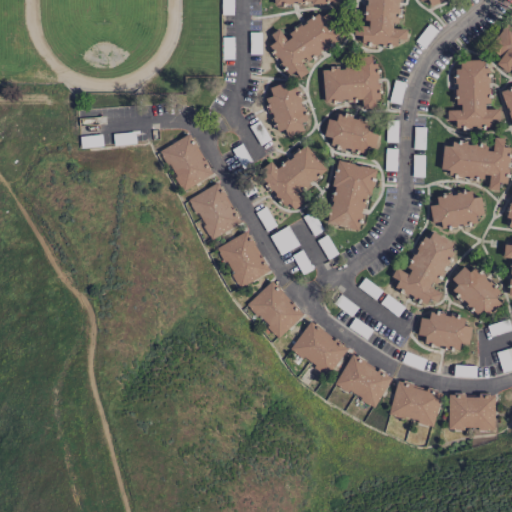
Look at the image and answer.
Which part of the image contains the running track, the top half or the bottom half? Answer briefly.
top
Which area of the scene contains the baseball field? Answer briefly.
top left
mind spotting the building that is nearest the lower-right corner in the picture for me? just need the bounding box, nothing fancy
[450,394,498,431]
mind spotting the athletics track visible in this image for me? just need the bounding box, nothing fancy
[26,0,182,92]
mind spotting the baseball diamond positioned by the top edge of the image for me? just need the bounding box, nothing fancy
[39,0,170,80]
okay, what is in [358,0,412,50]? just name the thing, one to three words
building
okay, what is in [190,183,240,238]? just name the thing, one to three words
house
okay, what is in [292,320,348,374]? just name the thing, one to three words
house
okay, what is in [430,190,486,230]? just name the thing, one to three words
building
